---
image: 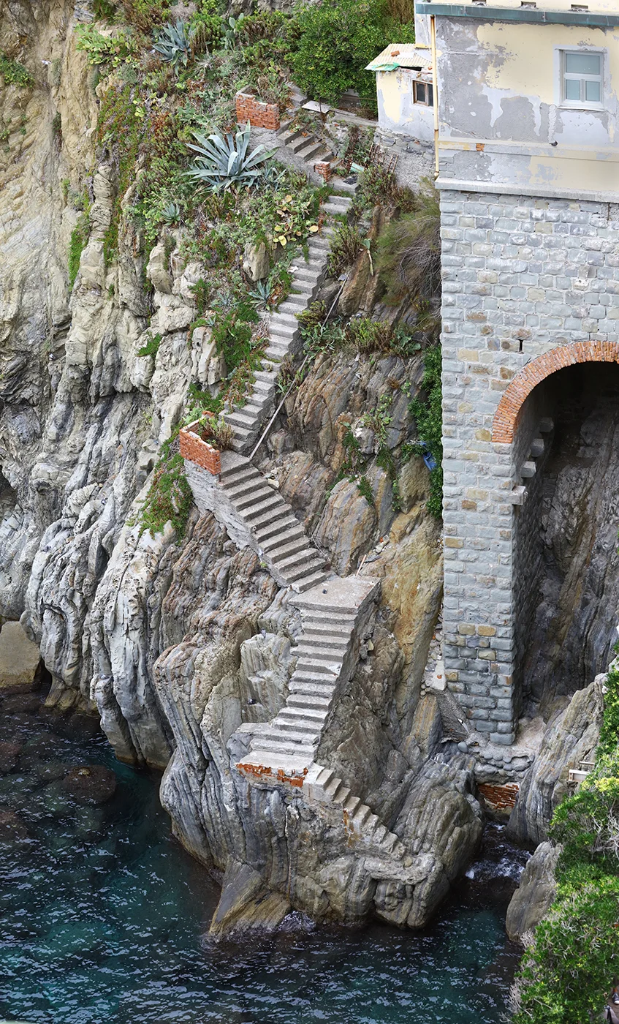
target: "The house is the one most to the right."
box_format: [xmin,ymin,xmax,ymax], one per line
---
[411,0,619,764]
